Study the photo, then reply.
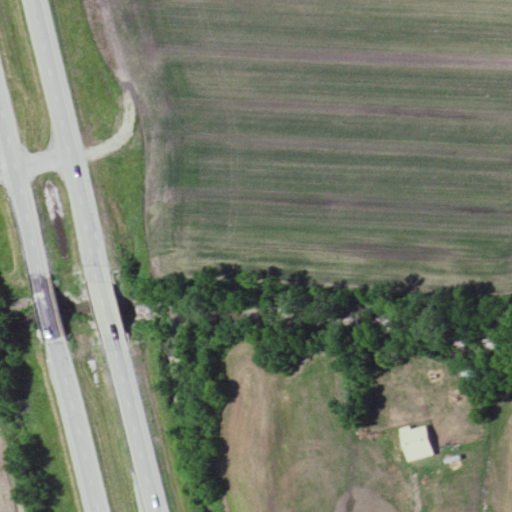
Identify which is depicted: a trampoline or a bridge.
bridge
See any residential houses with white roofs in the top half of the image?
No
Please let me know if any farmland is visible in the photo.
Yes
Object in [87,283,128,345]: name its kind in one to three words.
bridge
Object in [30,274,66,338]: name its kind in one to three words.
bridge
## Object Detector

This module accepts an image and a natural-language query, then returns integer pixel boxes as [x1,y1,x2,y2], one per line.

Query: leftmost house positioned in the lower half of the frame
[400,424,434,463]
